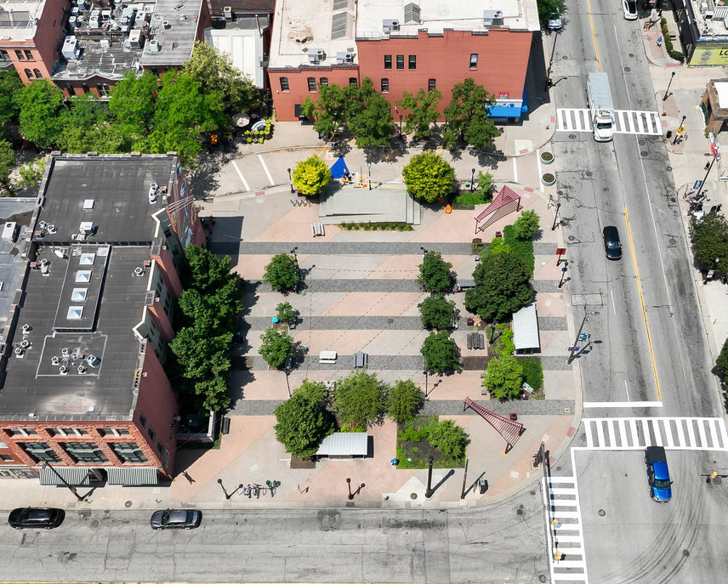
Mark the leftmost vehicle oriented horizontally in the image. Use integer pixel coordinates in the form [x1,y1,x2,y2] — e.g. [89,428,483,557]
[13,506,65,530]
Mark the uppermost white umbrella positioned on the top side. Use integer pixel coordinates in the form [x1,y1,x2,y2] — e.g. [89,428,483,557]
[233,114,251,132]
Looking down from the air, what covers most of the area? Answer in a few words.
paved ground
